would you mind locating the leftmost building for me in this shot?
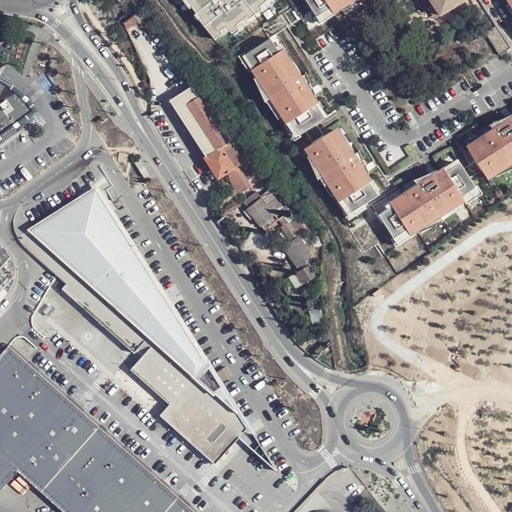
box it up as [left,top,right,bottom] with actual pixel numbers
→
[0,77,37,144]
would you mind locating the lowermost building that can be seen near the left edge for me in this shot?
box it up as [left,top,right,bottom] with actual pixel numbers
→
[0,345,196,512]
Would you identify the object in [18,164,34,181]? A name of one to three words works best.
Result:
vehicle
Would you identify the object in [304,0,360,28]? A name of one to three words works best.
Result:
house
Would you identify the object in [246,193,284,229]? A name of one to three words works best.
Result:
house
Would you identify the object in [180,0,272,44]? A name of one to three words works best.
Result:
building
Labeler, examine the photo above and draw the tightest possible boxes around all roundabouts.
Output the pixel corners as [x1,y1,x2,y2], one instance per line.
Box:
[328,377,414,463]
